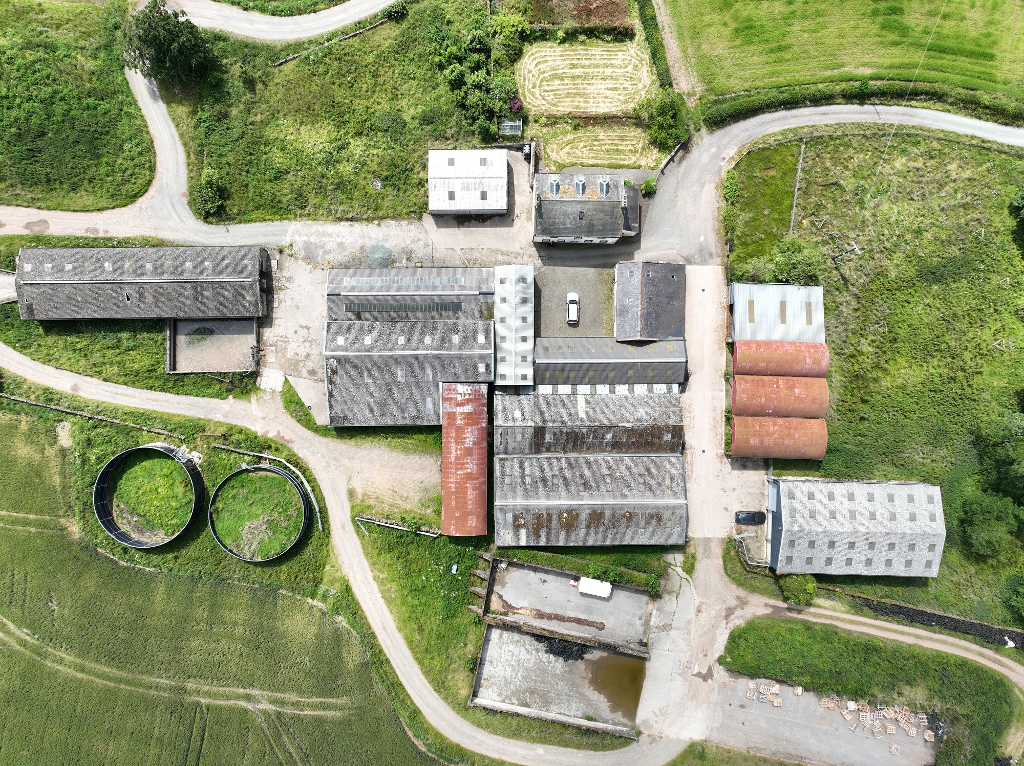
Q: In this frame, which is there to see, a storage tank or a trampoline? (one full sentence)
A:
Visible in the photo is a storage tank.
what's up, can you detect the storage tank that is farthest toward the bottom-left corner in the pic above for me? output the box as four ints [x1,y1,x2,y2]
[93,445,204,549]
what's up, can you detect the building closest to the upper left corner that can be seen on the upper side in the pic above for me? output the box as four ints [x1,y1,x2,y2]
[15,245,268,320]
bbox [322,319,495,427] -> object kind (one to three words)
shed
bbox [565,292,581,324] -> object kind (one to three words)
car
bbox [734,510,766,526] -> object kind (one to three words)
car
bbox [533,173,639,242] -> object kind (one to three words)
house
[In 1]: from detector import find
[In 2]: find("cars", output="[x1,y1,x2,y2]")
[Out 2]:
[565,292,581,324]
[734,510,766,526]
